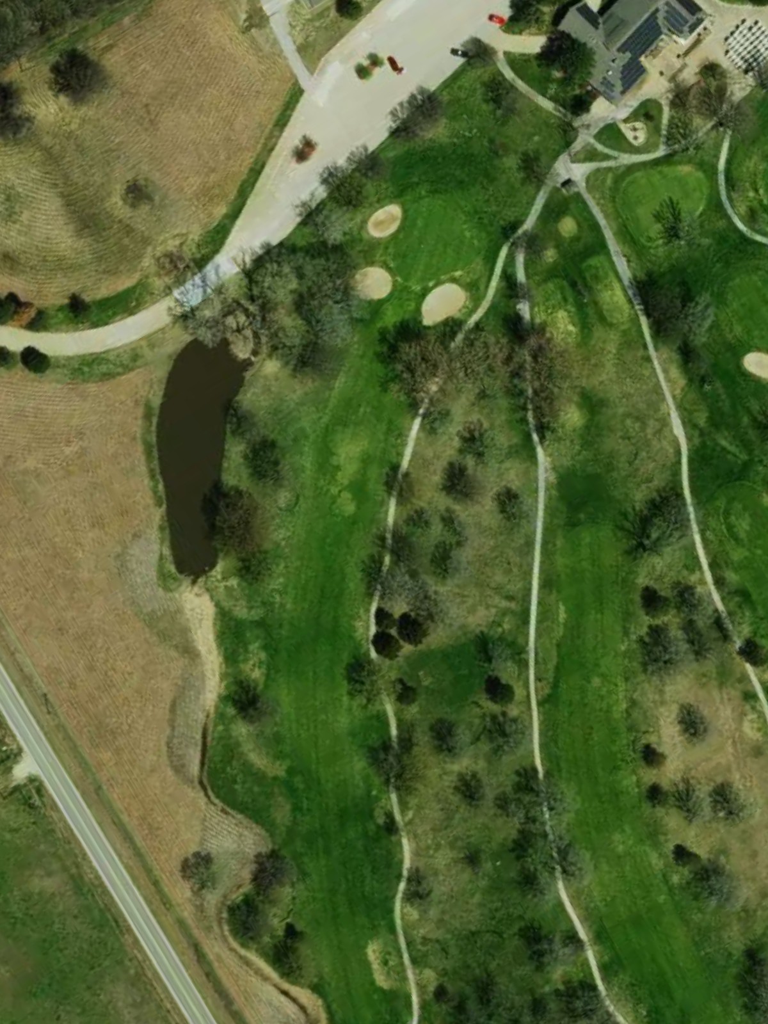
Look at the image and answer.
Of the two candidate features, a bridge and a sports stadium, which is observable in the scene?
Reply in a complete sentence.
The one in the frame is a bridge.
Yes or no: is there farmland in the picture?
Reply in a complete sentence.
Yes, there is farmland in the image.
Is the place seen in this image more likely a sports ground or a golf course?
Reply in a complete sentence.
It's a golf course.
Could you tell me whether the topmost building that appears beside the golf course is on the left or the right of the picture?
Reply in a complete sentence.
The topmost building that appears beside the golf course is on the right side of the image.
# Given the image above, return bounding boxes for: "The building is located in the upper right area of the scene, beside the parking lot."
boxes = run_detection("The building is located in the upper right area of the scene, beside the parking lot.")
[556,0,712,104]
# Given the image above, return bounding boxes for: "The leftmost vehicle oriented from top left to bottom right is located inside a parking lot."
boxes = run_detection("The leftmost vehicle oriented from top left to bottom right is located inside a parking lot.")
[387,55,400,71]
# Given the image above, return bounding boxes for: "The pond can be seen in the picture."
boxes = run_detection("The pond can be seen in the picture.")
[157,336,253,576]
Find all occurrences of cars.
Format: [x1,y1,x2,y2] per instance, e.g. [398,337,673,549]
[488,13,506,24]
[450,47,467,57]
[387,55,400,71]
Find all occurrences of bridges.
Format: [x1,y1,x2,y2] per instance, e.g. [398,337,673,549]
[176,256,232,309]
